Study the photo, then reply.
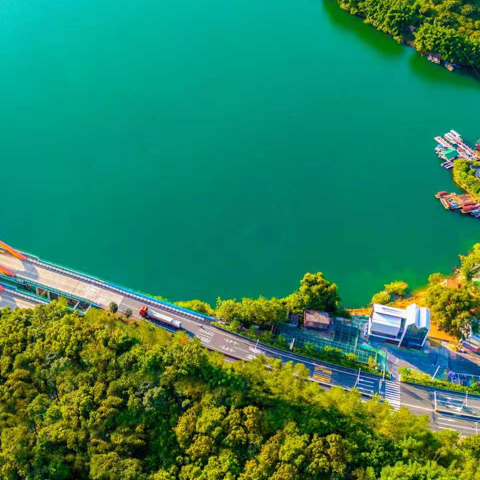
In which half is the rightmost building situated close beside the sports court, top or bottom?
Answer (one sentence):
The rightmost building situated close beside the sports court is in the bottom half of the image.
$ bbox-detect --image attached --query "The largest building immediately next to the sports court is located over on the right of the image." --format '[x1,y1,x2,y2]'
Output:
[358,300,434,353]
